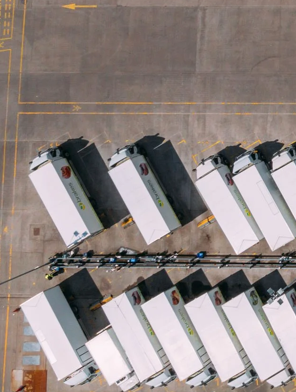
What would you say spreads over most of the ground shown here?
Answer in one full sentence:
The largest share of the image is taken up by paved ground.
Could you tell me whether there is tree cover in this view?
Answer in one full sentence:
No, there is no tree cover in the image.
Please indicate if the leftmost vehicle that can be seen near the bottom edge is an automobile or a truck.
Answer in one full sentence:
In the photo, the leftmost vehicle that can be seen near the bottom edge shows up as a truck.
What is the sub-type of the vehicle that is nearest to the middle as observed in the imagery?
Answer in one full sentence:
Specifically, the vehicle that is nearest to the middle is a truck.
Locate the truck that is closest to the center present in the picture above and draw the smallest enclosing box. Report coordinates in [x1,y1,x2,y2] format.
[106,139,184,245]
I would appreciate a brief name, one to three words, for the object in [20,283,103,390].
truck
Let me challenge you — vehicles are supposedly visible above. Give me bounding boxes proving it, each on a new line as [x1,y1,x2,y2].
[28,141,107,247]
[184,285,259,392]
[106,139,184,245]
[101,284,179,392]
[85,321,150,392]
[261,285,296,375]
[229,144,296,252]
[191,148,265,255]
[266,140,296,218]
[141,283,219,391]
[20,283,103,390]
[221,284,296,392]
